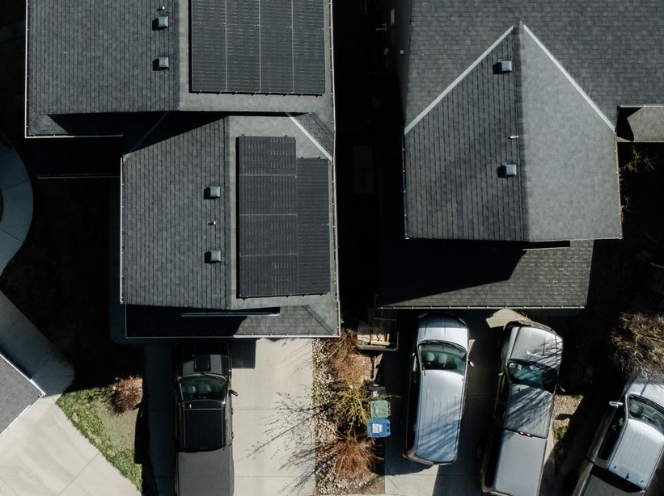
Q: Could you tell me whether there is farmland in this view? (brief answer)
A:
No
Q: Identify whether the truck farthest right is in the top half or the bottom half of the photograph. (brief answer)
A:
bottom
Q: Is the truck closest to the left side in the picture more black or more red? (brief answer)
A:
black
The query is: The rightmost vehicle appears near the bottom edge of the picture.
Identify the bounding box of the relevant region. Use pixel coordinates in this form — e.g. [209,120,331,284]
[565,357,664,496]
